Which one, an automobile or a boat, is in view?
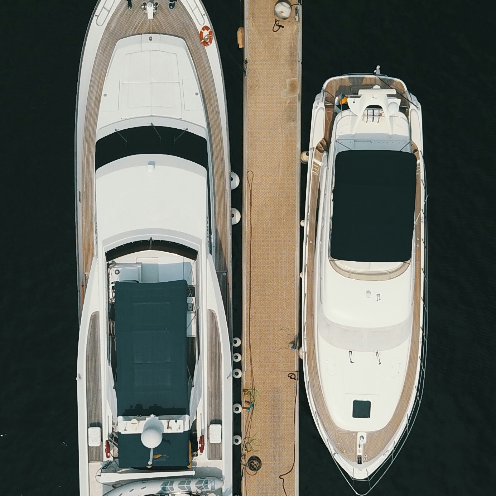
boat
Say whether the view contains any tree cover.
No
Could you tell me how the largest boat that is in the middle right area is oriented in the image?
up and down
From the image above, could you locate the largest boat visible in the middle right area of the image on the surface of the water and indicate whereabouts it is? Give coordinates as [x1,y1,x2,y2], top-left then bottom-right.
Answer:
[300,64,428,495]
